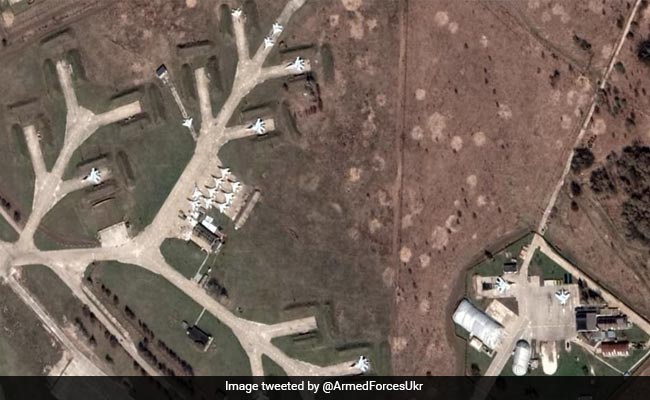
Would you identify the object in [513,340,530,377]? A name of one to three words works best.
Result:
hangar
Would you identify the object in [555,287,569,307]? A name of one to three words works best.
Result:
airplane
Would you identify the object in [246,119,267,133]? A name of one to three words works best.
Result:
airplane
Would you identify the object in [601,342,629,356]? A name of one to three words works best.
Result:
building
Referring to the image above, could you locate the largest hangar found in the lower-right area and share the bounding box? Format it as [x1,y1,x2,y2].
[451,299,507,347]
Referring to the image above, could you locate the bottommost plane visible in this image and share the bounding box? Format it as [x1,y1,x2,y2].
[351,357,371,370]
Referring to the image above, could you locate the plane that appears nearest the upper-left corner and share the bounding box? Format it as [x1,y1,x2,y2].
[82,170,103,182]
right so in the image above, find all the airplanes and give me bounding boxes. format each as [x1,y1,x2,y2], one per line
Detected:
[228,180,243,191]
[182,116,192,130]
[246,119,267,133]
[273,21,283,36]
[232,6,242,22]
[351,357,371,370]
[215,203,230,213]
[555,287,569,307]
[205,187,220,197]
[285,58,306,71]
[222,192,237,202]
[194,186,204,201]
[212,177,227,187]
[265,34,274,50]
[82,170,103,182]
[493,279,513,292]
[189,200,203,211]
[202,197,216,208]
[218,168,233,179]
